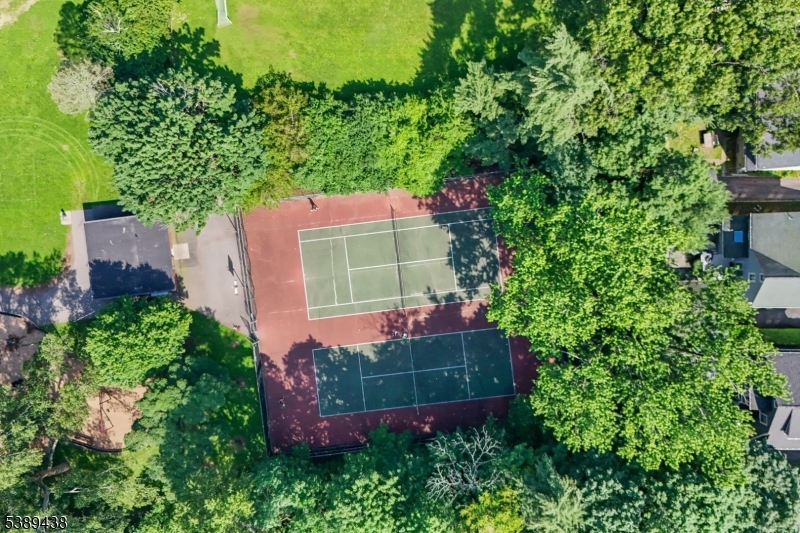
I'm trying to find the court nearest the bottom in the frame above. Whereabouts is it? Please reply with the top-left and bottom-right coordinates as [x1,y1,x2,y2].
[259,307,566,453]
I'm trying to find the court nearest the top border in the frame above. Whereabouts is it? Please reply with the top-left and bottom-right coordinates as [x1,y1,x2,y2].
[244,175,553,341]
